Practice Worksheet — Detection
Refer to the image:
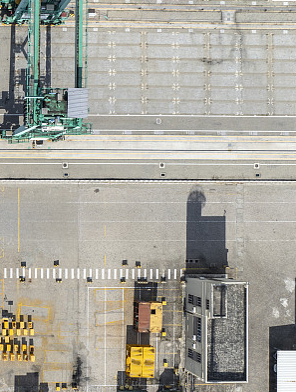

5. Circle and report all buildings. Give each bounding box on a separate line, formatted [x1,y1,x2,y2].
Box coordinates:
[184,279,249,386]
[269,351,296,392]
